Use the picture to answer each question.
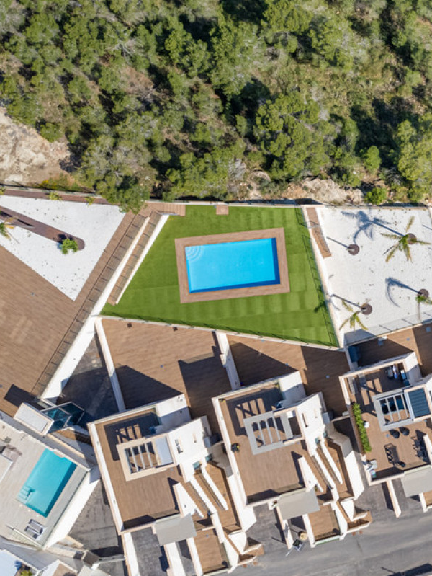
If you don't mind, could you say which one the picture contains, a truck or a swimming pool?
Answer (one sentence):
The one in the frame is a swimming pool.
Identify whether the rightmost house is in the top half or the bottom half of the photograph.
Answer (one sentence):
Seen from above, the rightmost house lies in the bottom half of the view.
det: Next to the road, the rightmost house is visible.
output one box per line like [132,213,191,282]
[339,351,432,516]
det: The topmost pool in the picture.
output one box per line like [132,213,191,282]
[175,227,290,304]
